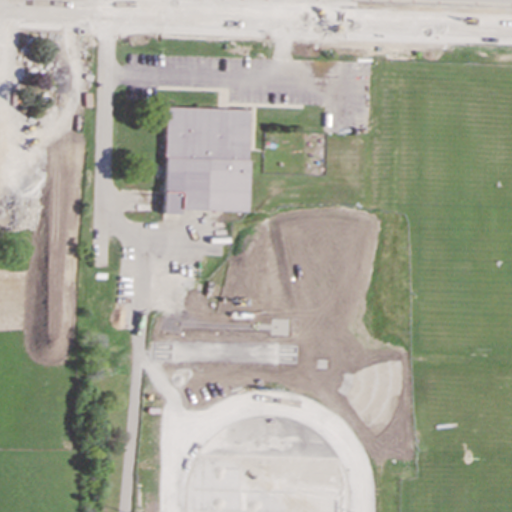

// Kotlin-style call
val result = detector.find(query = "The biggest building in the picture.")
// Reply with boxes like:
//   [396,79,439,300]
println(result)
[162,106,252,213]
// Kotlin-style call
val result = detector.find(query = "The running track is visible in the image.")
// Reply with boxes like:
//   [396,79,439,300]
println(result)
[162,394,374,512]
